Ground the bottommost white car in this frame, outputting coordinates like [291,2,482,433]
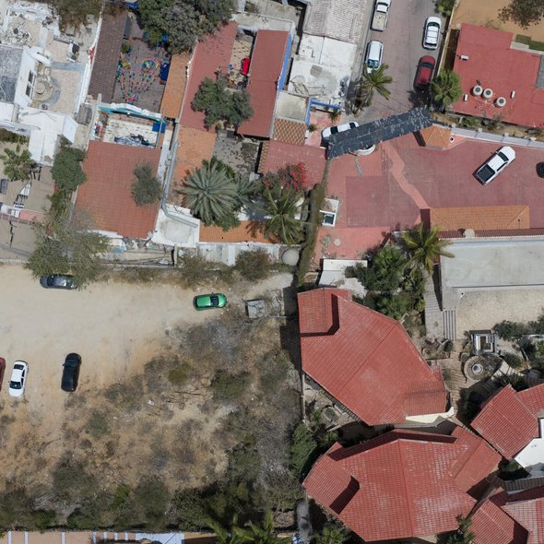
[8,361,30,396]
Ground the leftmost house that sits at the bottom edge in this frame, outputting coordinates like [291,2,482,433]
[303,428,501,542]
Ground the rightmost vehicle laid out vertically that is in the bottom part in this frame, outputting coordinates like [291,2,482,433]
[62,354,82,392]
